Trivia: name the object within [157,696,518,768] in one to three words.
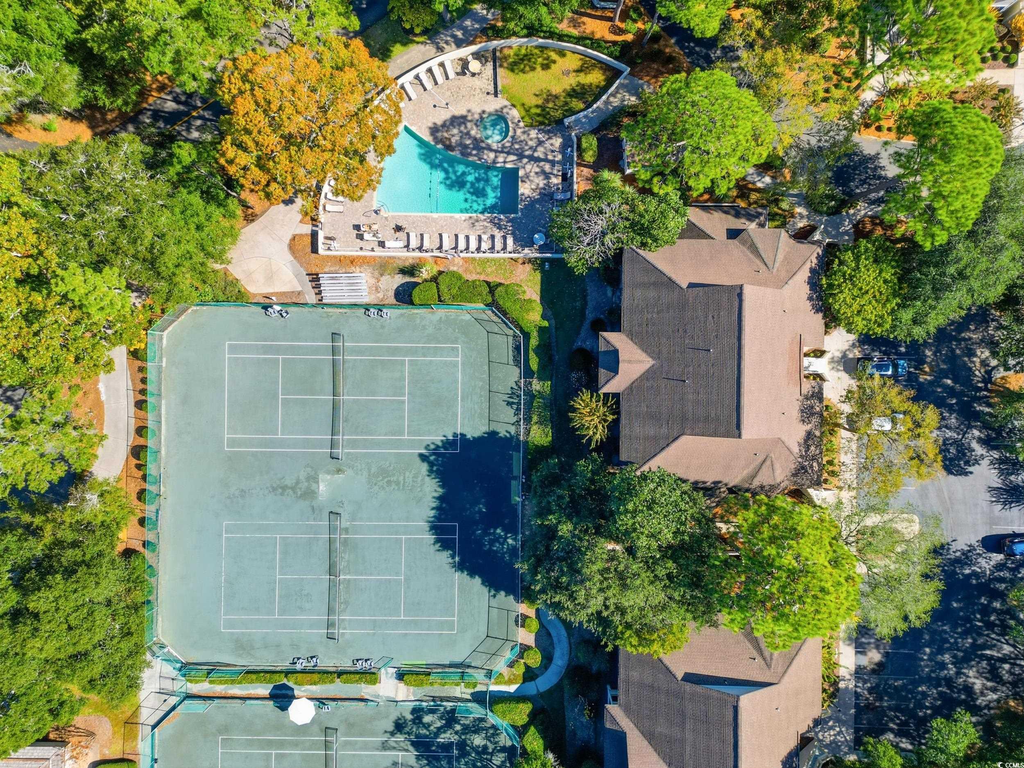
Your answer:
tennis court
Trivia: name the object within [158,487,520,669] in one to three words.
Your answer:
tennis court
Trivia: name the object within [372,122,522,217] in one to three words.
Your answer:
swimming pool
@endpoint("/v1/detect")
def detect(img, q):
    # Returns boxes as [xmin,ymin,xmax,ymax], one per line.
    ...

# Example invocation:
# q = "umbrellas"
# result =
[289,696,316,724]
